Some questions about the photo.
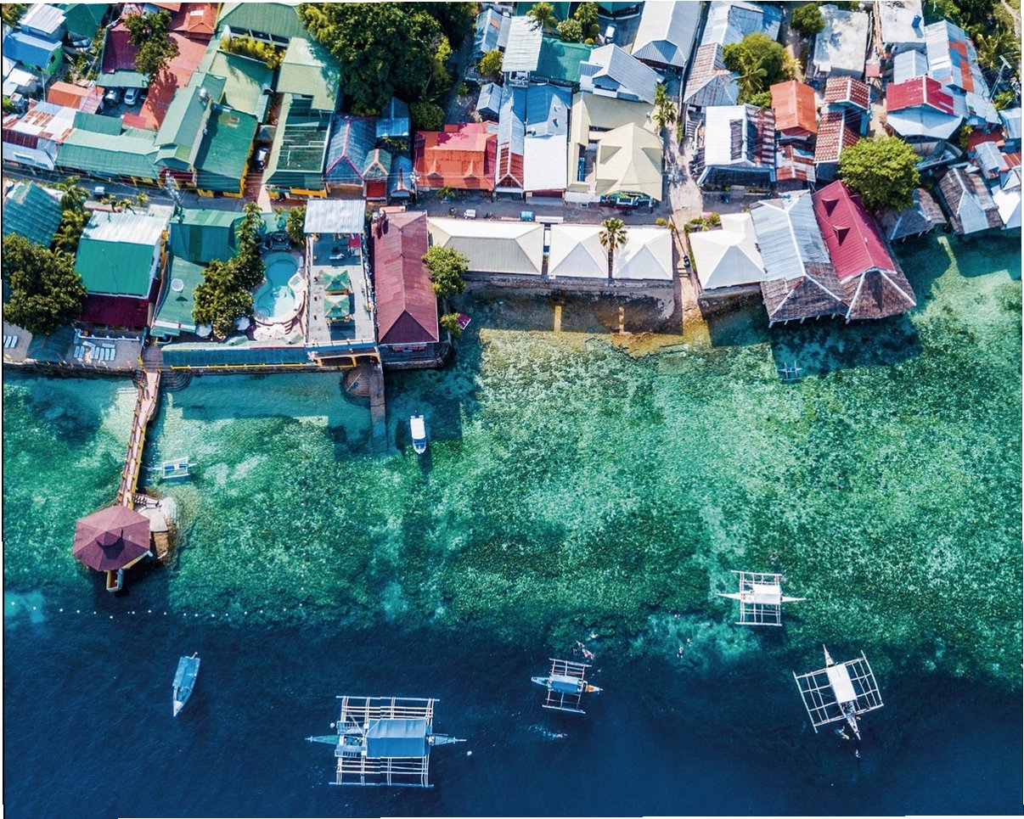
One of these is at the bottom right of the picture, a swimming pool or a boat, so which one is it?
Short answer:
boat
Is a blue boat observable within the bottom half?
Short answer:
Yes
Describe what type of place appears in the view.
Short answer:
residential area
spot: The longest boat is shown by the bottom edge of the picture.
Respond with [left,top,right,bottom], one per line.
[304,697,469,786]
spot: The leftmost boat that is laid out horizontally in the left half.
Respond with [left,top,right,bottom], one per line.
[143,457,199,477]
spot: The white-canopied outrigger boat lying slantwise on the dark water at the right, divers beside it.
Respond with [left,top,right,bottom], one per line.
[793,645,886,741]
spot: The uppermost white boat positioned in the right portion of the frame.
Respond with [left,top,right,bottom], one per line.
[718,571,808,626]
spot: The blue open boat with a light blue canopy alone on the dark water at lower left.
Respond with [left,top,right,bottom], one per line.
[171,651,198,718]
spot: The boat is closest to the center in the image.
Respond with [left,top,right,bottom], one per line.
[410,410,426,455]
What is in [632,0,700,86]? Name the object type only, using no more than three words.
house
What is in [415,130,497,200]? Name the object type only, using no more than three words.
house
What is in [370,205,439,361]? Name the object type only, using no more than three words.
building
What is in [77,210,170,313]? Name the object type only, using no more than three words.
building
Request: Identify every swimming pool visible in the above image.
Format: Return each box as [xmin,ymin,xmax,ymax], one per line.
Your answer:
[250,251,304,323]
